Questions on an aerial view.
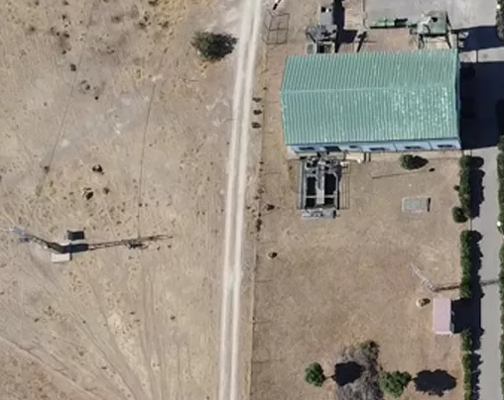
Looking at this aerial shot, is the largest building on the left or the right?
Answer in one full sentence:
The largest building is on the right side of the image.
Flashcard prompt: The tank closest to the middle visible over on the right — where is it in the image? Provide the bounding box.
[299,153,341,222]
